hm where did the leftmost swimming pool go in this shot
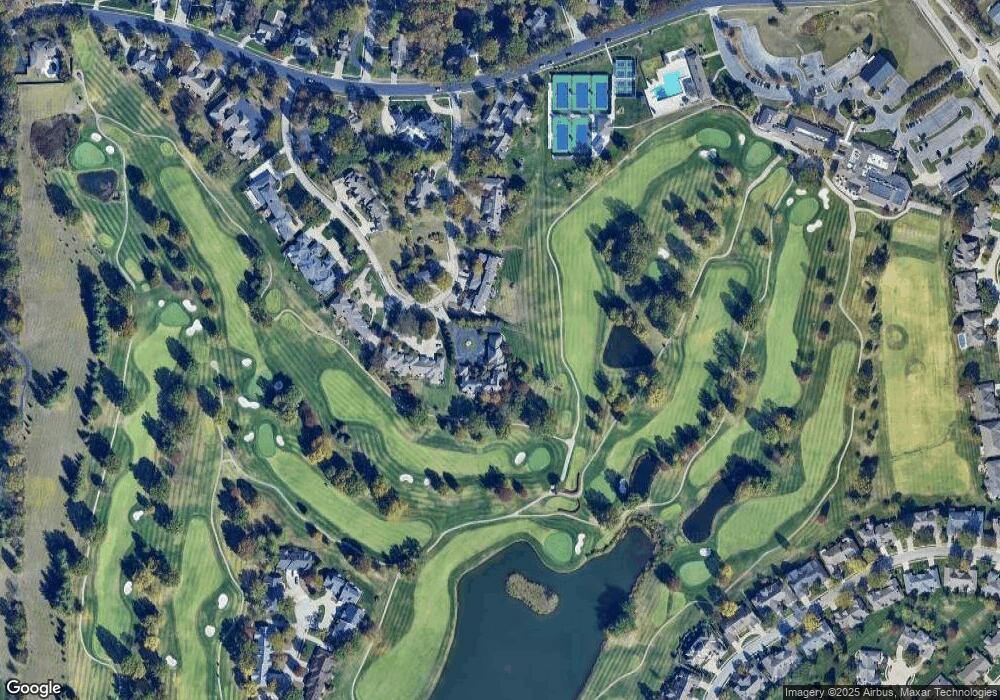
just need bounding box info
[45,60,60,77]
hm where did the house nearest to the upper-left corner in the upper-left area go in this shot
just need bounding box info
[8,42,57,72]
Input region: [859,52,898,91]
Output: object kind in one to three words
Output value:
barn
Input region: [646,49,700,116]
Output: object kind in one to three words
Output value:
swimming pool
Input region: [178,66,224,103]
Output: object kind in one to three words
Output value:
house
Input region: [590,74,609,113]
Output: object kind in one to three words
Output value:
tennis court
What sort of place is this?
golf course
